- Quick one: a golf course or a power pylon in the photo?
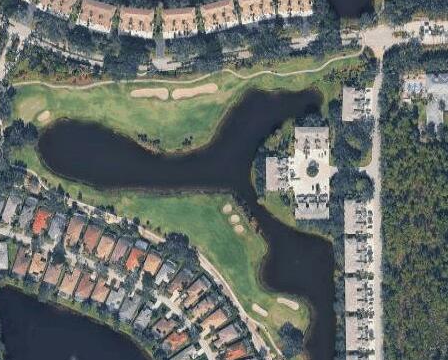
golf course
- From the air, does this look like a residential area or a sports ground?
residential area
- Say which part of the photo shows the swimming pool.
top right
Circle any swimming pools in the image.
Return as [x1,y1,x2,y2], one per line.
[402,75,428,97]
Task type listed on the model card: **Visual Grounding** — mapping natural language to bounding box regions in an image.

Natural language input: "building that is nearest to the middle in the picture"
[267,158,287,191]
